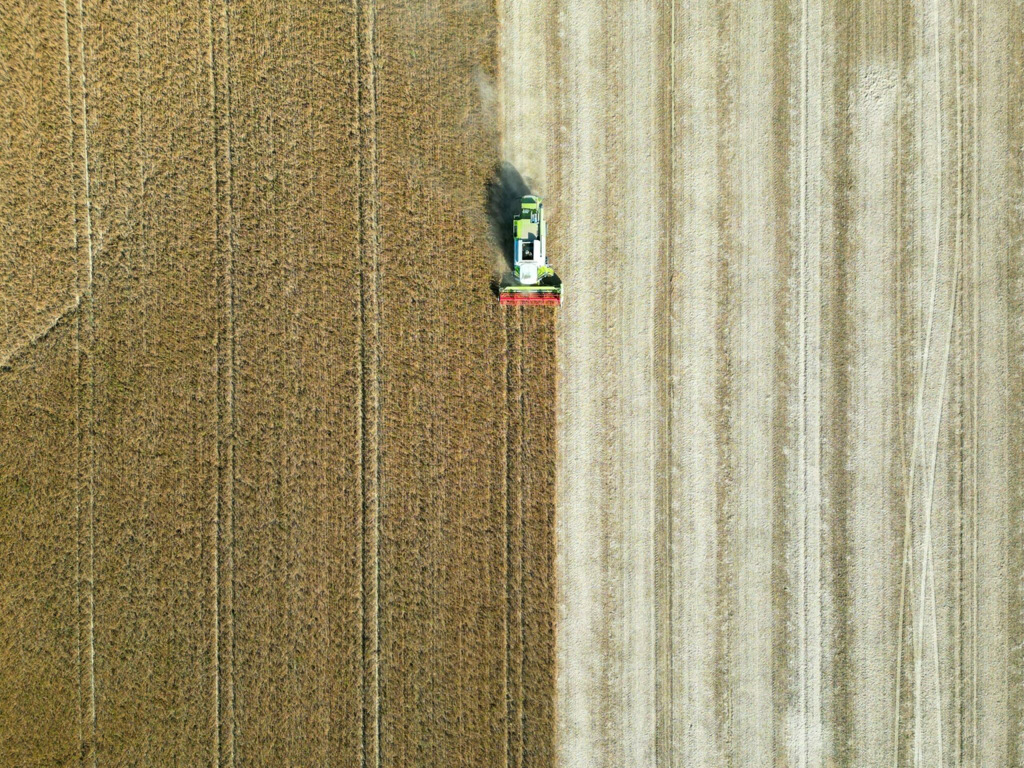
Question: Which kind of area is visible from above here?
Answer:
farmland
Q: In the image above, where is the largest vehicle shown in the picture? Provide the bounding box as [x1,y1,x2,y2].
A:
[498,194,563,307]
